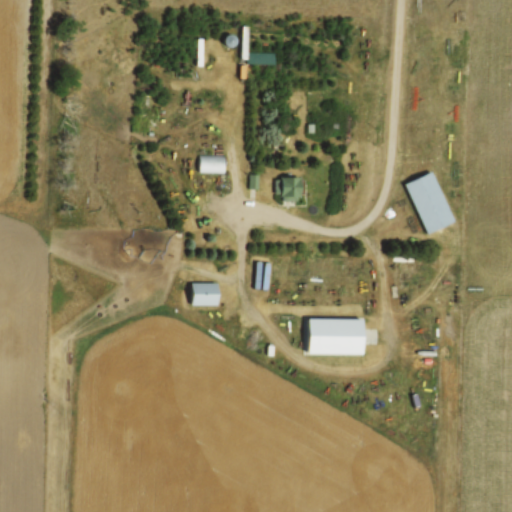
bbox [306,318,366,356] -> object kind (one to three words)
barn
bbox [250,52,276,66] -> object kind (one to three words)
shed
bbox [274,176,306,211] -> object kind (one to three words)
house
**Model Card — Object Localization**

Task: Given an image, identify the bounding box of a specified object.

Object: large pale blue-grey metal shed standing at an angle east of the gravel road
[404,174,454,234]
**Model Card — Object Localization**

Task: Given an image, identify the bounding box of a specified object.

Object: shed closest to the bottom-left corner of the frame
[190,283,220,306]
